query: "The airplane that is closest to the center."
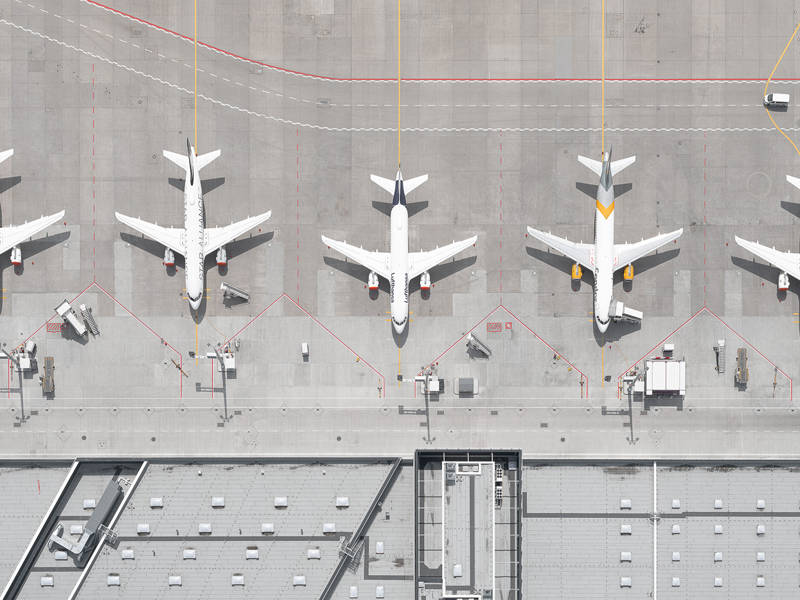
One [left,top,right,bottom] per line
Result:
[321,162,477,334]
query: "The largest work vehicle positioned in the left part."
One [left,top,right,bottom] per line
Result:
[39,357,56,392]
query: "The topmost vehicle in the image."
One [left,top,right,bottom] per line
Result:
[765,92,791,105]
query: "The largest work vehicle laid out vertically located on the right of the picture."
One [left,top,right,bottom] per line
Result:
[733,348,748,383]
